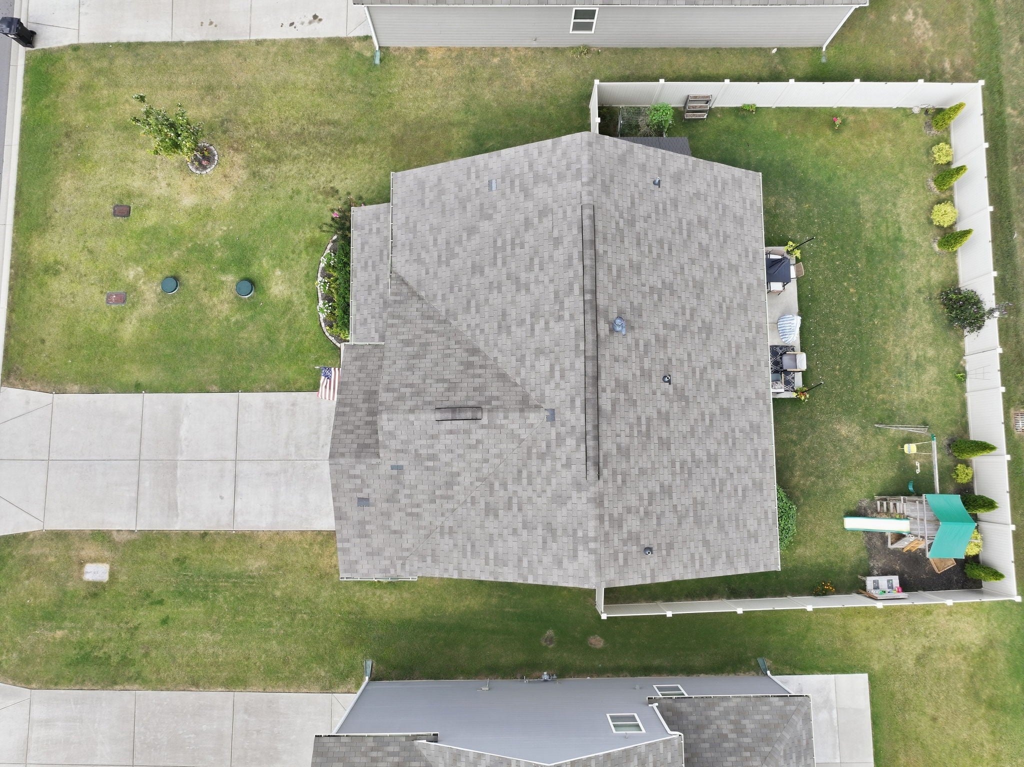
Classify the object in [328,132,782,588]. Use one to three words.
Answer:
house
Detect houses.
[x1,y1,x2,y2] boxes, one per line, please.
[311,669,816,767]
[353,0,869,52]
[328,132,782,588]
